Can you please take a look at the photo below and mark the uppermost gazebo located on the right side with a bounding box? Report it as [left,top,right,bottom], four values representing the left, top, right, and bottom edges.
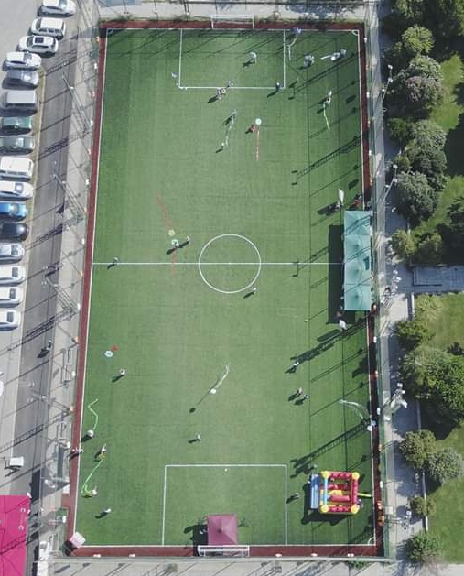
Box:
[342,211,371,241]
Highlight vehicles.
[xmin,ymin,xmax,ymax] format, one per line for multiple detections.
[0,220,28,240]
[2,68,39,88]
[0,288,23,306]
[0,267,25,285]
[0,310,20,330]
[3,51,41,69]
[0,244,23,262]
[0,181,34,199]
[0,91,38,111]
[0,116,32,134]
[0,157,34,178]
[41,0,75,17]
[0,201,28,221]
[32,18,65,37]
[18,34,57,55]
[0,133,35,154]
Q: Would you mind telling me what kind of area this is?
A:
sports ground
